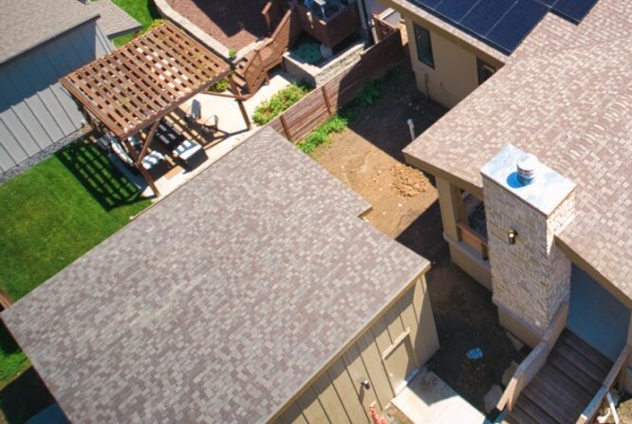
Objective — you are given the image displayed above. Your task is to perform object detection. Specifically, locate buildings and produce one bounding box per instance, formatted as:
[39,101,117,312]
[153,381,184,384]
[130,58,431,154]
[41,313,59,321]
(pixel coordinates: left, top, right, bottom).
[383,0,632,403]
[0,126,440,424]
[0,0,160,177]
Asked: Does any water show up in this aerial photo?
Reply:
No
